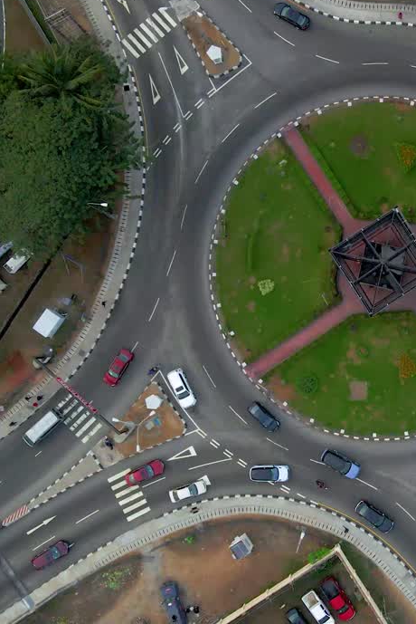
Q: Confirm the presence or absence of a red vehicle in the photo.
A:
Yes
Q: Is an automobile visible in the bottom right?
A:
Yes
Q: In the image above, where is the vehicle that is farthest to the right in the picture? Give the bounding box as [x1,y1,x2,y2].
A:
[353,499,396,532]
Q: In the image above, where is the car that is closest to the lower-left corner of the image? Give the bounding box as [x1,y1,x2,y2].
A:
[28,539,71,572]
